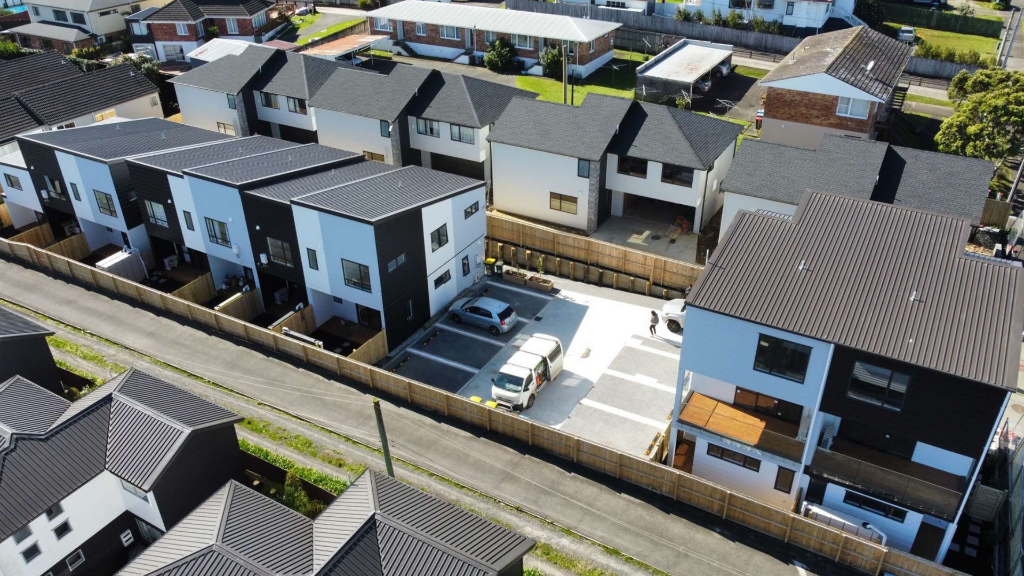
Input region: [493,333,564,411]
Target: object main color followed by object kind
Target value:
white van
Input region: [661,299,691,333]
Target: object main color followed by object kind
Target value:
white car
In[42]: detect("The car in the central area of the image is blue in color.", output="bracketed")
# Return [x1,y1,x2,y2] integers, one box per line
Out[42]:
[447,296,520,337]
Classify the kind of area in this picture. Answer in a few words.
residential area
